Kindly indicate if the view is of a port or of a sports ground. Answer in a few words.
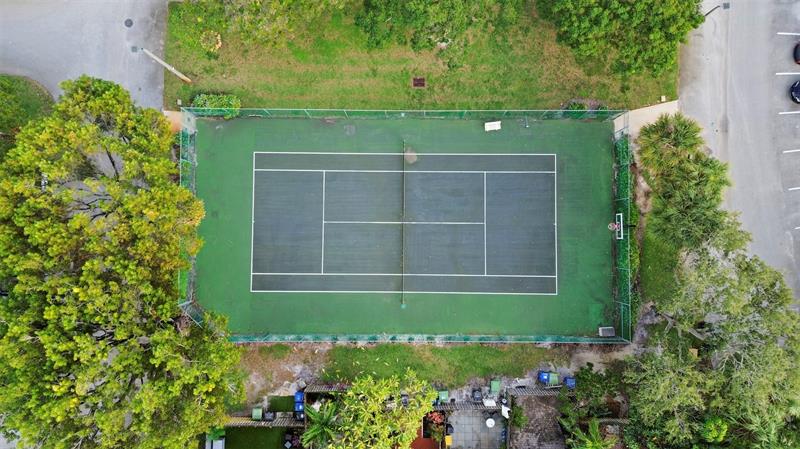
sports ground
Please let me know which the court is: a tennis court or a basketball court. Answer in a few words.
tennis court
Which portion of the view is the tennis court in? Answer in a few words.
center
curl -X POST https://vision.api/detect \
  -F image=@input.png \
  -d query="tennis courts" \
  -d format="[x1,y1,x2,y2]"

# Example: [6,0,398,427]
[193,116,616,337]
